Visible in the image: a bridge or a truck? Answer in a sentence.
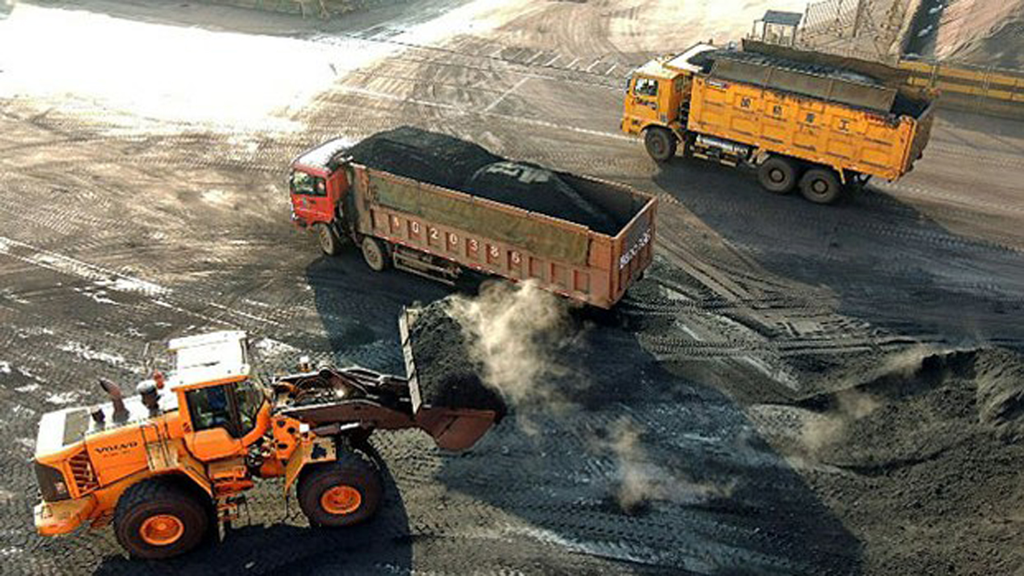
It is a truck that can be seen here.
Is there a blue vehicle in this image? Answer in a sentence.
No, there is no blue vehicle in the image.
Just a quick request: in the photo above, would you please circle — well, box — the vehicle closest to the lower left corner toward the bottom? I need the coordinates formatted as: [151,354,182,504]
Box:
[31,310,497,560]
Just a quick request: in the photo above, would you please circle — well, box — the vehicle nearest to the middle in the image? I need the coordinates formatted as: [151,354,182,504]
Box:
[281,127,660,332]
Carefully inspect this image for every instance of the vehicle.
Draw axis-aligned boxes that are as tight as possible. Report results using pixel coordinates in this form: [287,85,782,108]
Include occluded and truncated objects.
[281,127,660,332]
[31,310,497,560]
[620,35,943,203]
